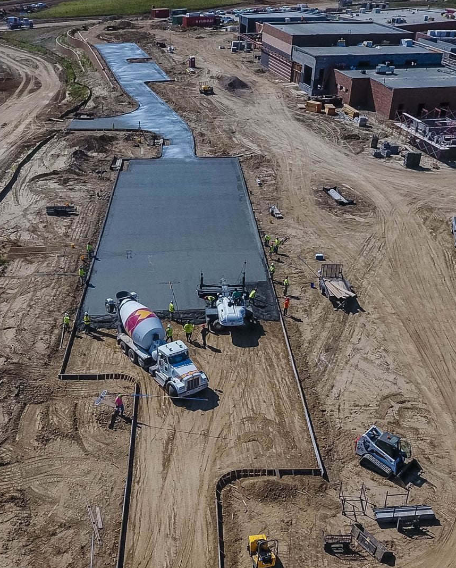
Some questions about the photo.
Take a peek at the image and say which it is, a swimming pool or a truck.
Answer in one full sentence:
Looking from above, you can make out a truck.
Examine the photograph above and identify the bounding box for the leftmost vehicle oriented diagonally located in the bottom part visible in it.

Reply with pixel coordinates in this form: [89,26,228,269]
[99,293,212,403]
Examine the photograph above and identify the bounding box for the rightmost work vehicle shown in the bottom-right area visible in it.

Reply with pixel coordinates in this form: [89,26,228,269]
[358,428,427,496]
